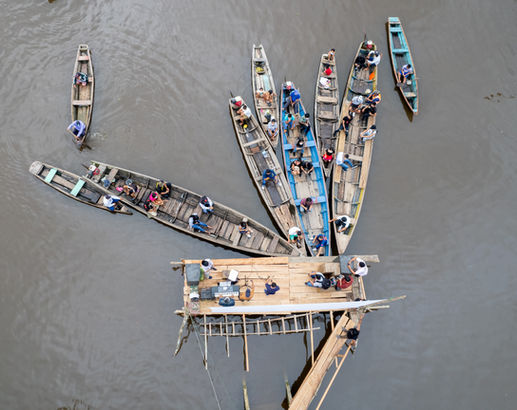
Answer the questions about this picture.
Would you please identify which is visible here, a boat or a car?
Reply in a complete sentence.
Visible in the photo is a boat.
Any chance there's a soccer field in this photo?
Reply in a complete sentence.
No, the frame has no soccer field in it.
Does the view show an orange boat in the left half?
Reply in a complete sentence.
No, I see no orange boat in the left half.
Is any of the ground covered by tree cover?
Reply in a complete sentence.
No, the scene doesn't show any tree cover.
